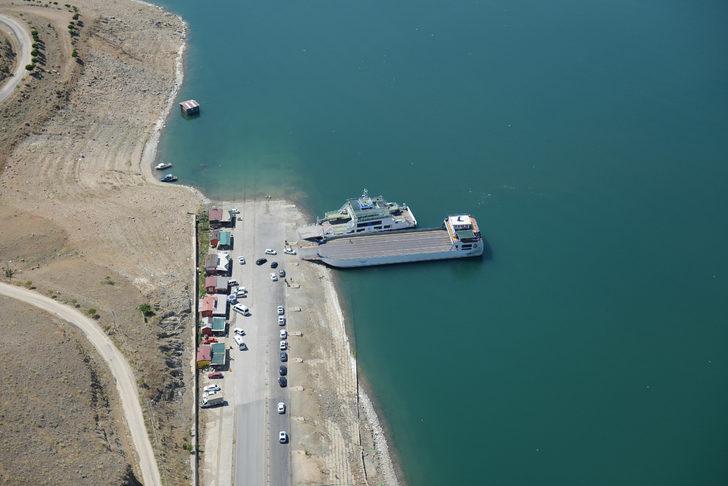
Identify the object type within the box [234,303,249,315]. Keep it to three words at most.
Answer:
vehicle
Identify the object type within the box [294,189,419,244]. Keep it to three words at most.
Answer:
ship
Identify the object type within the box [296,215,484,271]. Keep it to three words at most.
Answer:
ship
